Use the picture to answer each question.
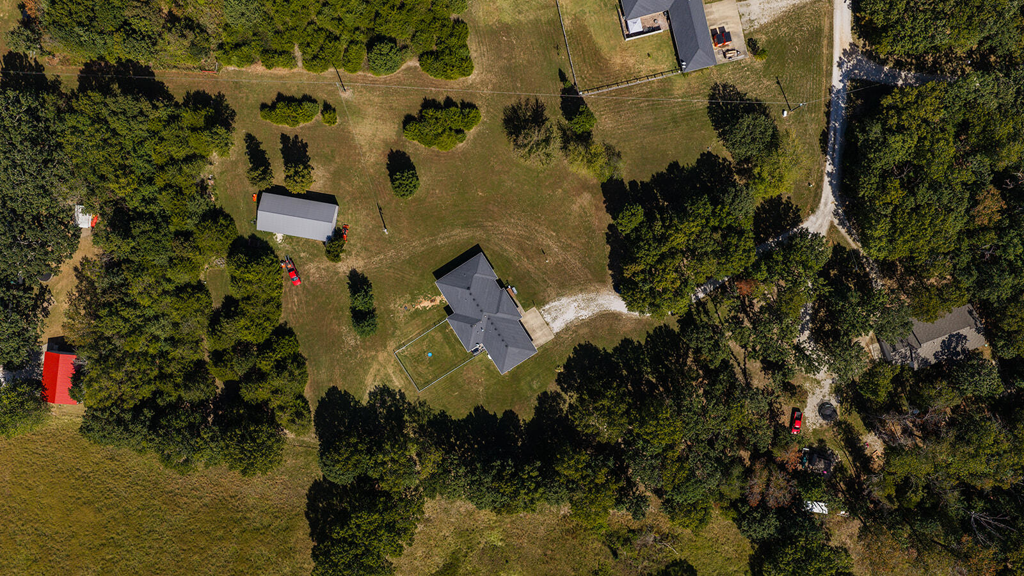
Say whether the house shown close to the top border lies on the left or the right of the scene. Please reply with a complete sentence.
You can find the house shown close to the top border on the right side of the picture.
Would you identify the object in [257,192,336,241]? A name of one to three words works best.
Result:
barn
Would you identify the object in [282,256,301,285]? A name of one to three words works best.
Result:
vehicle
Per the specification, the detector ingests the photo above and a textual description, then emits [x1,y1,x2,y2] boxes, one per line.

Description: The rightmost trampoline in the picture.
[820,405,838,421]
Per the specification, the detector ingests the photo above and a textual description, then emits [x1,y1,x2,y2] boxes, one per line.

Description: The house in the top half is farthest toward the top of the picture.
[622,0,717,72]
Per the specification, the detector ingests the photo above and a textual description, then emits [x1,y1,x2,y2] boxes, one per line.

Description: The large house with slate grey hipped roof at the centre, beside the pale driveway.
[435,252,538,374]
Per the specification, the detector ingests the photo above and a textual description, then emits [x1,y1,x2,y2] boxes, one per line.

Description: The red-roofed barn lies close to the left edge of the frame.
[42,351,83,405]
